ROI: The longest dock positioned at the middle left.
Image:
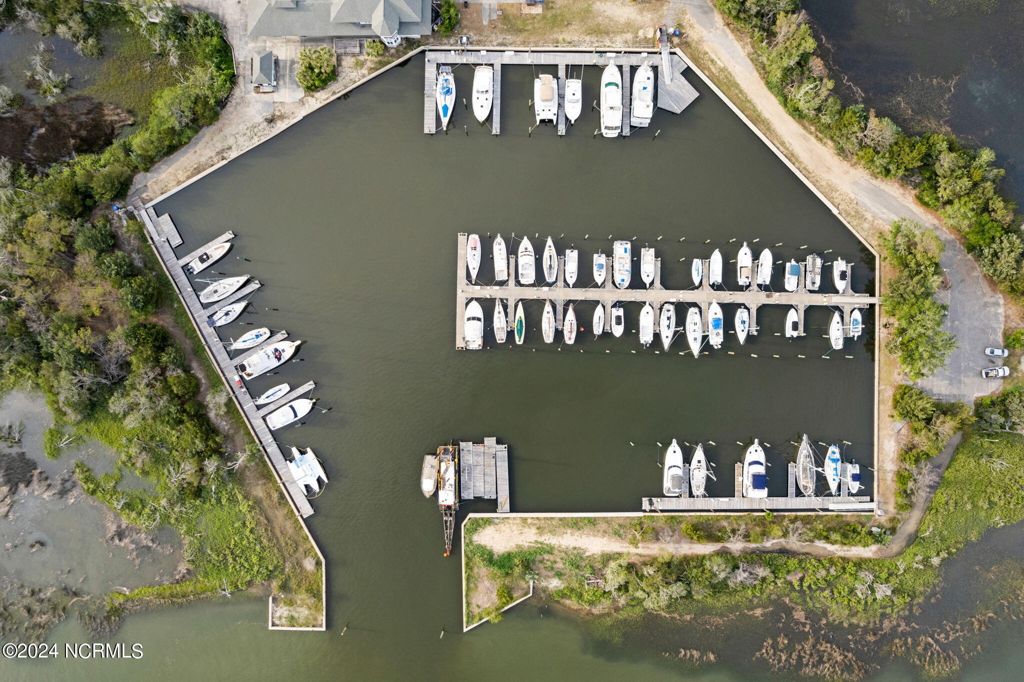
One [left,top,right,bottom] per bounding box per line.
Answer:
[148,206,316,518]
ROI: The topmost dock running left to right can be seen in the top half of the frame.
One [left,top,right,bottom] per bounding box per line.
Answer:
[424,52,699,136]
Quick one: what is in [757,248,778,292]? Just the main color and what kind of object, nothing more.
white boat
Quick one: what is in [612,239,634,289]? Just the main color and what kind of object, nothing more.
white boat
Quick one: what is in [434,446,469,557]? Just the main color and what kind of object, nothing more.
white ship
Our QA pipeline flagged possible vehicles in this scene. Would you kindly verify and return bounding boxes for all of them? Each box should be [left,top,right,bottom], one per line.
[979,366,1010,378]
[983,347,1008,358]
